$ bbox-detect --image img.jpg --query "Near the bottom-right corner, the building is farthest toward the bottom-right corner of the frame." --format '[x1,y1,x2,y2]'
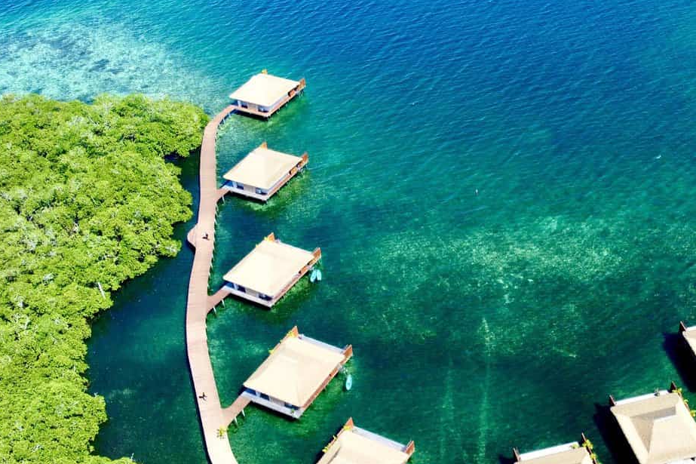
[608,383,696,464]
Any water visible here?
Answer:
Yes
